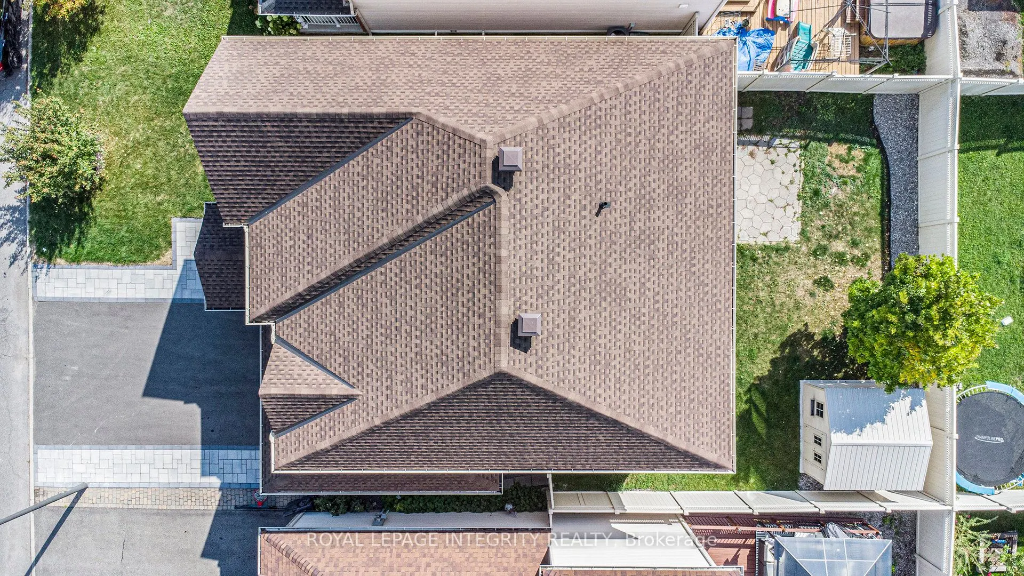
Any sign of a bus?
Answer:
No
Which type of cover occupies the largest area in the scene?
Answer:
buildings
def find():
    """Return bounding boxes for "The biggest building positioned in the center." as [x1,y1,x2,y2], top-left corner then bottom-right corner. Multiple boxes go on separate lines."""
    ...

[182,34,736,494]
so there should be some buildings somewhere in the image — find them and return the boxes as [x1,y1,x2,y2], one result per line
[259,512,745,576]
[182,34,736,494]
[800,379,936,490]
[259,0,724,35]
